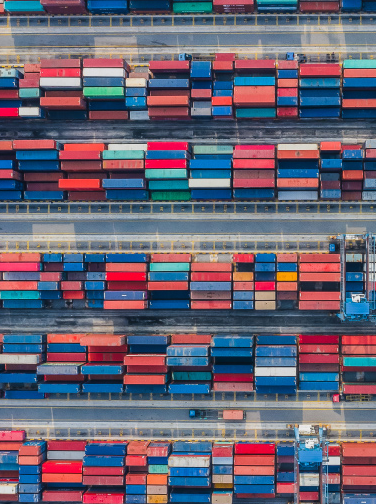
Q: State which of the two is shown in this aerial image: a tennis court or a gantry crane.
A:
gantry crane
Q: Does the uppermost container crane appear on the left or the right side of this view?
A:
right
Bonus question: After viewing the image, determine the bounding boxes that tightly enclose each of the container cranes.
[283,424,329,504]
[324,231,374,322]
